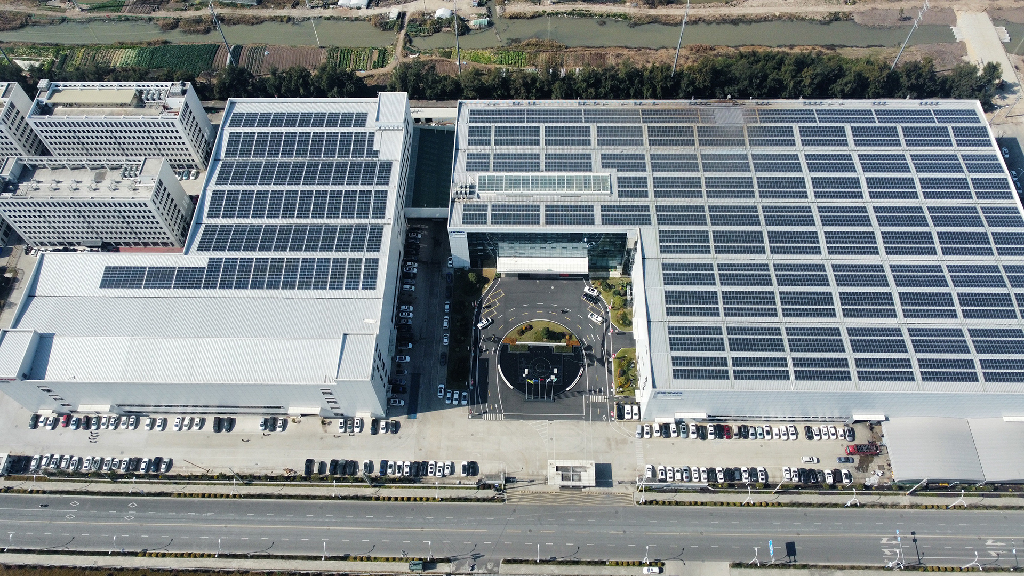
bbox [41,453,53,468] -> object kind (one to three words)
vehicle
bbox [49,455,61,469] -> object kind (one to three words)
vehicle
